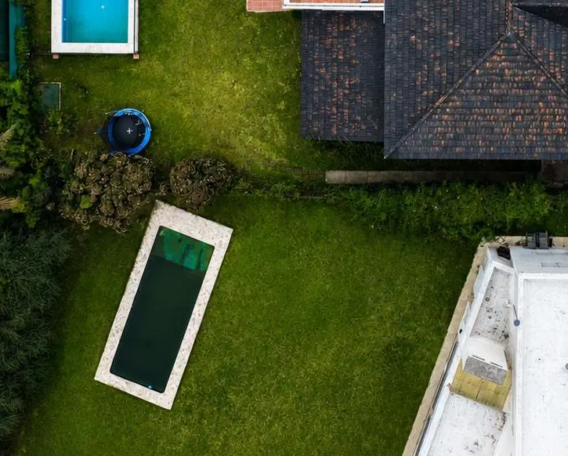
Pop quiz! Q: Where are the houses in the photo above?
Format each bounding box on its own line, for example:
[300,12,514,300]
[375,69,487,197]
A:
[300,0,568,161]
[411,249,568,456]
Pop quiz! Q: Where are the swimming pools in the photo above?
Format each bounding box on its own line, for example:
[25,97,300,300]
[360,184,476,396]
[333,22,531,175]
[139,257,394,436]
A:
[52,0,141,61]
[95,202,233,409]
